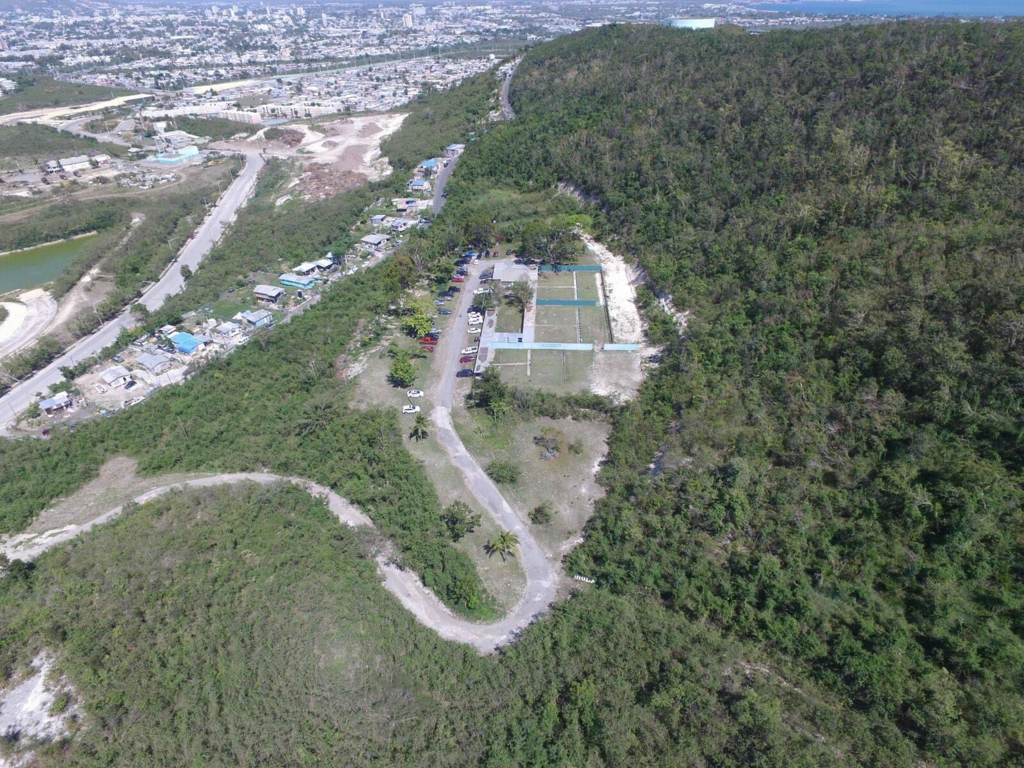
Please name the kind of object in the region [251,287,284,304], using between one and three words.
house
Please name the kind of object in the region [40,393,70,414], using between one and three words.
shed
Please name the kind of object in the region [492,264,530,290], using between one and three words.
building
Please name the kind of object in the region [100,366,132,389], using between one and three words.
house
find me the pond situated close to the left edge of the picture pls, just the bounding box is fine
[0,237,86,293]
